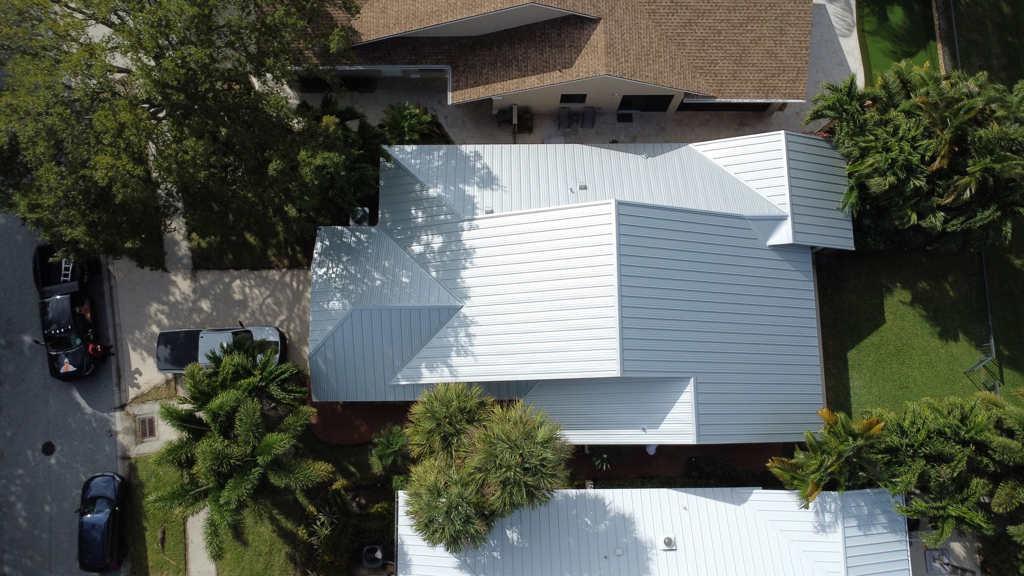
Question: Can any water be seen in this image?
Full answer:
No, there's no water in this view.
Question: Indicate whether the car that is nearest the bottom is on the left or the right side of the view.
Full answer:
The car that is nearest the bottom appears in the left half of the scene.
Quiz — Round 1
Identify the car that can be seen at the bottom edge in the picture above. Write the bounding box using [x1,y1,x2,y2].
[70,472,130,576]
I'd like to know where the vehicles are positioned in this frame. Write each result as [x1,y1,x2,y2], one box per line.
[29,240,101,382]
[70,472,130,576]
[152,320,289,380]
